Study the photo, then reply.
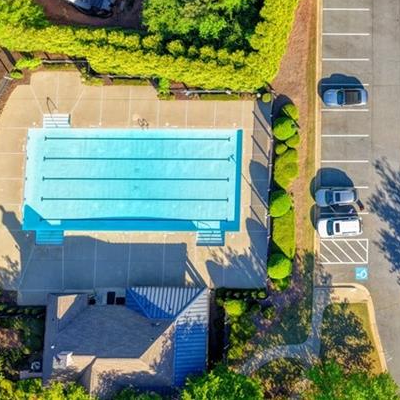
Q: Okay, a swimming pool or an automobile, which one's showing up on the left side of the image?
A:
swimming pool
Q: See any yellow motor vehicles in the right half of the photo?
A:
No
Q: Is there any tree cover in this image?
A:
Yes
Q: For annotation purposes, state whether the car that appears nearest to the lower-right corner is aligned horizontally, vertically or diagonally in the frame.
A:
horizontally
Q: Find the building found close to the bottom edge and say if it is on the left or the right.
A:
left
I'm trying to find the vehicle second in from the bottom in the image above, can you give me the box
[315,188,357,214]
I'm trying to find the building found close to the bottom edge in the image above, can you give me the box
[42,285,212,400]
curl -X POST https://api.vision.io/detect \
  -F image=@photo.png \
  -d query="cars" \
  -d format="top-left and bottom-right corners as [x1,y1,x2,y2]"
[318,218,362,241]
[323,87,367,107]
[315,188,357,214]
